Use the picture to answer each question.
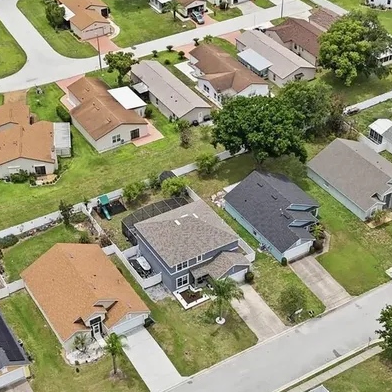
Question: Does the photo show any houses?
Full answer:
Yes, there's a house down there.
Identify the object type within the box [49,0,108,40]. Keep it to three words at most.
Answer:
house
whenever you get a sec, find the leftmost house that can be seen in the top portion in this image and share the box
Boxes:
[0,103,74,179]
